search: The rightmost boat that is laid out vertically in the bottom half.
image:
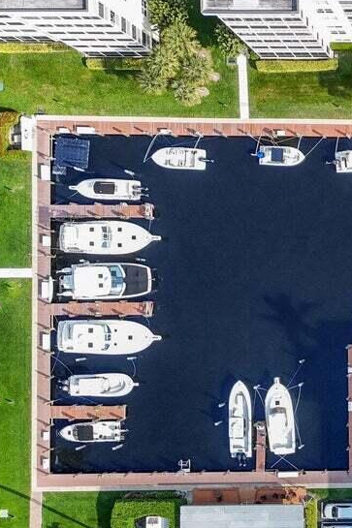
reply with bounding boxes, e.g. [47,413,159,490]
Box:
[256,362,301,468]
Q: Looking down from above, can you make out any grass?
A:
Yes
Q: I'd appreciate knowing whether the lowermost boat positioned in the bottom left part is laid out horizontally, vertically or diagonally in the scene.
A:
horizontally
